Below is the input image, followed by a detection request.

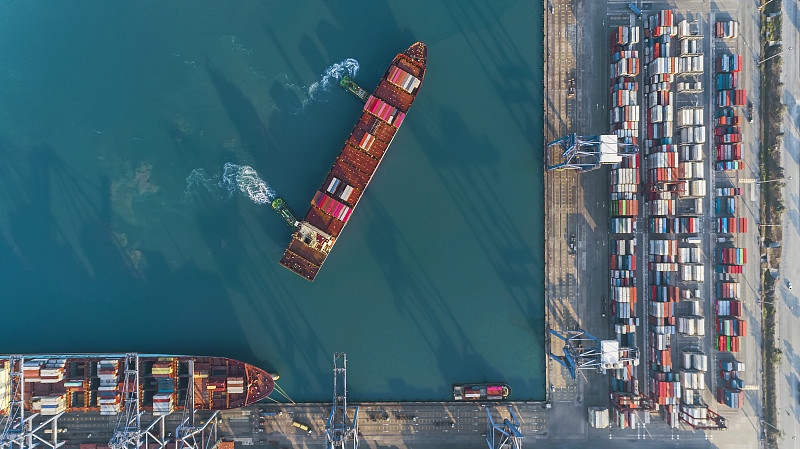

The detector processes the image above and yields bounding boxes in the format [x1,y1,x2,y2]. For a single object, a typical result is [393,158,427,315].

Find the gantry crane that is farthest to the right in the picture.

[677,406,727,431]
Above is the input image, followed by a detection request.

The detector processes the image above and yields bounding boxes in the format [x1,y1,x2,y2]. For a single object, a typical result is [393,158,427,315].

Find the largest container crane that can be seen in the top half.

[547,132,640,174]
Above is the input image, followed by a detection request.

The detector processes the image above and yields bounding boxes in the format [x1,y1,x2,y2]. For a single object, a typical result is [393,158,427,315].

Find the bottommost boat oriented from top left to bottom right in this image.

[270,198,299,230]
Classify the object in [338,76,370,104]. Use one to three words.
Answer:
boat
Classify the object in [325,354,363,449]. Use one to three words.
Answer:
container crane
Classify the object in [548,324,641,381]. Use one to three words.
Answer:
container crane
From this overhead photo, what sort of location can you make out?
port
